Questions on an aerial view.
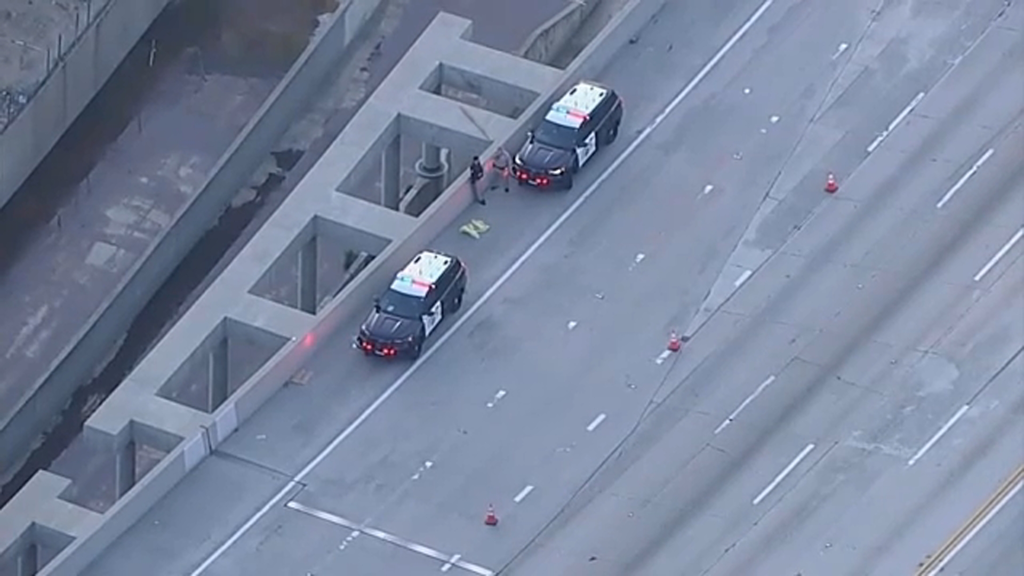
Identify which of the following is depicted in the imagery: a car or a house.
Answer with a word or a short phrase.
car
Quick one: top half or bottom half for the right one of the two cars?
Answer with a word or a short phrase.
top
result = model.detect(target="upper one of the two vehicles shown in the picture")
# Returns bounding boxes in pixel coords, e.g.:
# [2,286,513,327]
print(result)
[515,80,621,191]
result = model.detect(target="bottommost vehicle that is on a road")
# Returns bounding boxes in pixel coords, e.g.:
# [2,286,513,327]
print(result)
[358,247,464,362]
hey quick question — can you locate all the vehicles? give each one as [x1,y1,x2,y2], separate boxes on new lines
[515,80,621,191]
[358,247,464,362]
